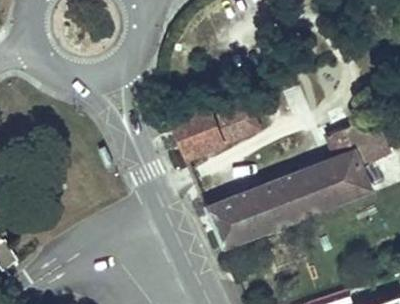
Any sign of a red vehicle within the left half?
No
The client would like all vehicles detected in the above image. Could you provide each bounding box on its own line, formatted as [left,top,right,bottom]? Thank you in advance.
[94,258,114,268]
[130,113,142,133]
[234,164,258,178]
[96,144,115,169]
[368,164,382,184]
[222,0,235,18]
[236,0,246,10]
[72,80,90,98]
